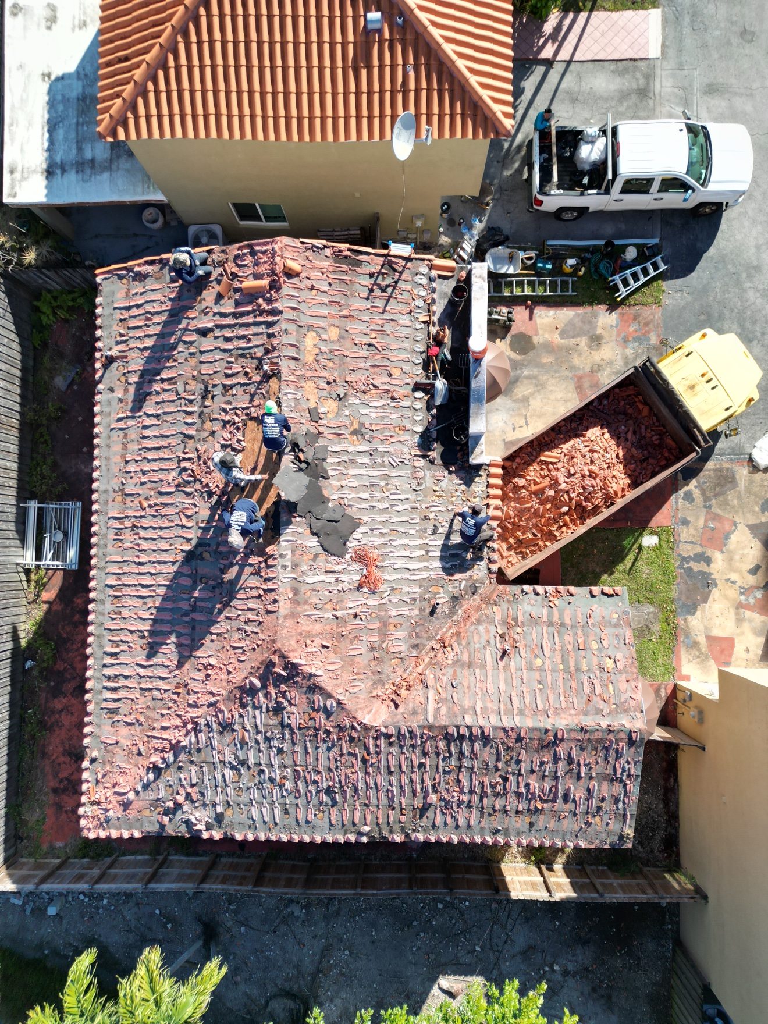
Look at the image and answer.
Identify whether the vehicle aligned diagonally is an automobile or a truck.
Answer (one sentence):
The vehicle aligned diagonally can be classified as a truck.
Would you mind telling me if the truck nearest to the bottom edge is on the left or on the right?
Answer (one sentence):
The truck nearest to the bottom edge sits on the right side.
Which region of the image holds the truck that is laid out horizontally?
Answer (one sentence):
Look in the top right portion of the view to spot the truck that is laid out horizontally.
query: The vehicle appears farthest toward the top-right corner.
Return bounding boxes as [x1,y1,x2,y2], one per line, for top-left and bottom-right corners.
[521,106,754,216]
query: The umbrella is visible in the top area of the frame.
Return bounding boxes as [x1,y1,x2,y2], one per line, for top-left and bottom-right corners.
[487,343,521,406]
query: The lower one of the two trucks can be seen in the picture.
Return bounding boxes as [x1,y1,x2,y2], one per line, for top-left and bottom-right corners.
[486,328,764,580]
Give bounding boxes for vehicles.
[486,328,764,580]
[521,106,754,216]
